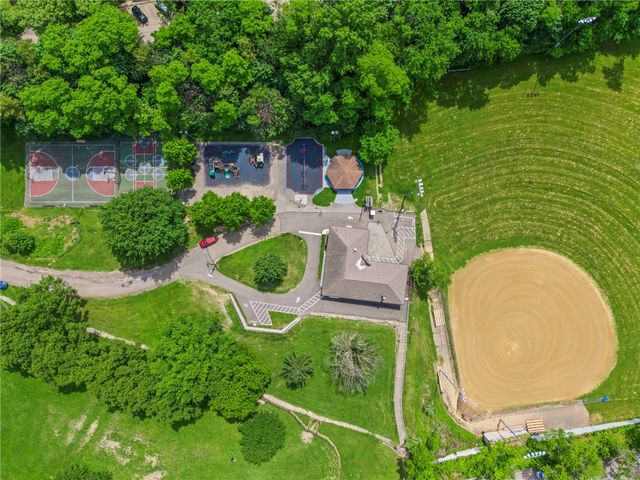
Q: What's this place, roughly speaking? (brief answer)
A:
sports ground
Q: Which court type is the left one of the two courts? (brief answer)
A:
basketball court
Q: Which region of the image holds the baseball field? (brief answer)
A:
right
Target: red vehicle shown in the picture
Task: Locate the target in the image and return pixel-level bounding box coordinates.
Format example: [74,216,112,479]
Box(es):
[198,236,218,248]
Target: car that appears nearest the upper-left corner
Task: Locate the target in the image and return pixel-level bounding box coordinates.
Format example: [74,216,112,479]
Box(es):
[132,6,149,28]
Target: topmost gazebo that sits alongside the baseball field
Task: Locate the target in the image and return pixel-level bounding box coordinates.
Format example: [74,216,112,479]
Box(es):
[323,148,367,204]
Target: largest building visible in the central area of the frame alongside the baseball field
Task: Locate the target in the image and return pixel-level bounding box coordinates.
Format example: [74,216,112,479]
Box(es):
[321,225,408,305]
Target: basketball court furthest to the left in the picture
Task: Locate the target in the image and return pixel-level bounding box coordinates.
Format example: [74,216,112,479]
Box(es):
[26,142,118,208]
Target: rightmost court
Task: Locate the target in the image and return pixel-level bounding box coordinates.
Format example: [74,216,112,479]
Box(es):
[120,138,171,195]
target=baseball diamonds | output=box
[386,46,640,424]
